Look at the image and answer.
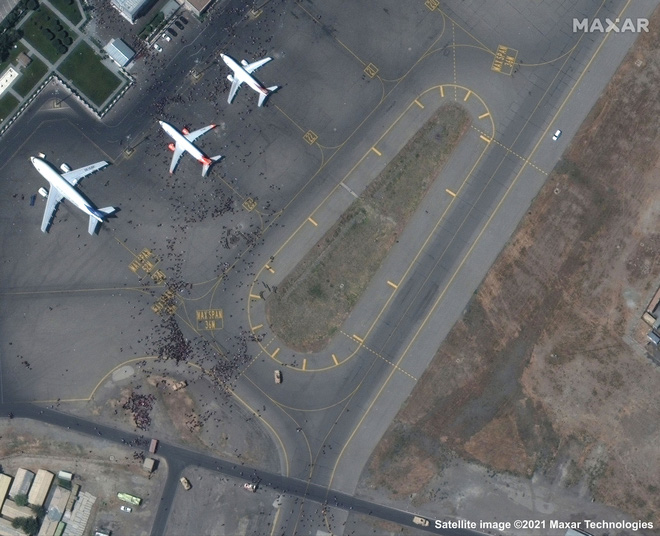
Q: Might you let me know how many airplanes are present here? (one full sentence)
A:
My tally gives 3 airplanes in this view.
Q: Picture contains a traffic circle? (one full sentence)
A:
No, no traffic circle is visible in the scene.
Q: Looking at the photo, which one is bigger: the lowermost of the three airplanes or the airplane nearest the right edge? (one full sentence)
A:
The airplane nearest the right edge is smaller than the lowermost of the three airplanes.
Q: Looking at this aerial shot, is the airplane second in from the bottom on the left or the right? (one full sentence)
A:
It is on the left.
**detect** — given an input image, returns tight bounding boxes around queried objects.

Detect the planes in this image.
[159,120,222,173]
[32,157,114,233]
[220,54,278,106]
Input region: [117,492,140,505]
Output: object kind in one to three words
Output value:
vehicle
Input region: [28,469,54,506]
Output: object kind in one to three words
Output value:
shed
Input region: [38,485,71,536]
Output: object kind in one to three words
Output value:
building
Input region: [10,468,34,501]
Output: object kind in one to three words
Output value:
shed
